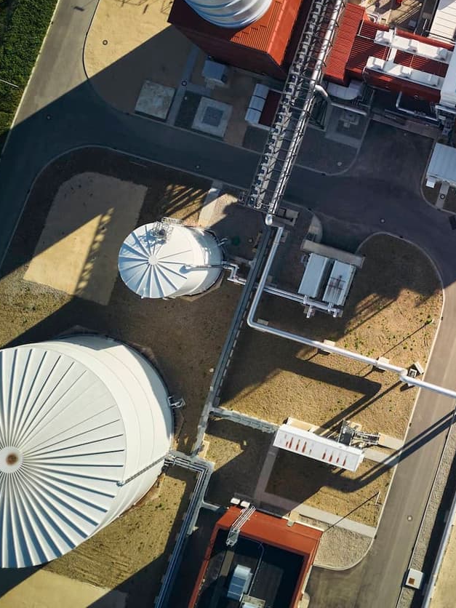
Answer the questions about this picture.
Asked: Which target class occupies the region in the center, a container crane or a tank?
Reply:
tank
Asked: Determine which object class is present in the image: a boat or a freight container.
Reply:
freight container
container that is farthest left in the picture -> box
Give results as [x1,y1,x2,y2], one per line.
[297,252,334,317]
